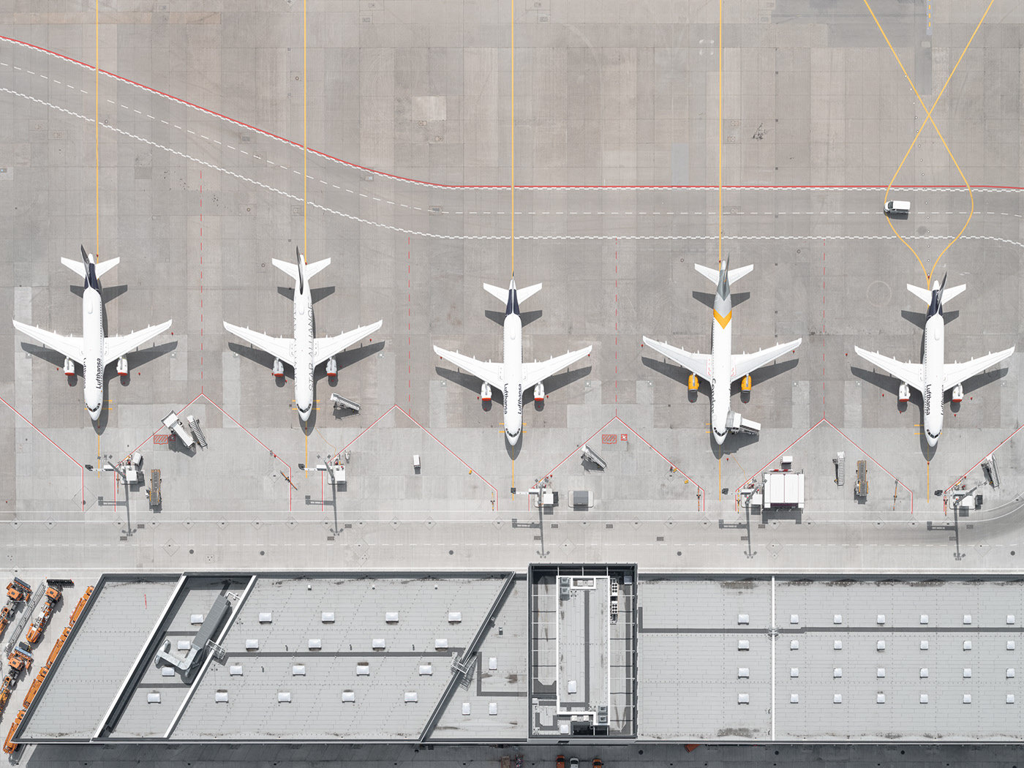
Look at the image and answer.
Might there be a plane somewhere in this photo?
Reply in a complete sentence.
Yes, I can see a plane in this picture.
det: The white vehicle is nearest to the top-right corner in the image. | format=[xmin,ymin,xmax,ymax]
[885,202,912,216]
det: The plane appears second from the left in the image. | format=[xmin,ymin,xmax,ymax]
[223,247,383,421]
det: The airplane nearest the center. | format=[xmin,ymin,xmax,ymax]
[433,276,593,446]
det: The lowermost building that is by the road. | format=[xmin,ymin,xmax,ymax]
[9,563,1024,749]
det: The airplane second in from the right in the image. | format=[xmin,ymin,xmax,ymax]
[642,252,802,445]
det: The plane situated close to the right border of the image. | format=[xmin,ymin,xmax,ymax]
[854,273,1015,446]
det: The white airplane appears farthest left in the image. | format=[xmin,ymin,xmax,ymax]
[12,245,173,420]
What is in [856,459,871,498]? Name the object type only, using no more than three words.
work vehicle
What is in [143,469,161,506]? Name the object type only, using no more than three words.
work vehicle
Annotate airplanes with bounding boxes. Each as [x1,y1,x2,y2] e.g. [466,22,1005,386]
[642,252,802,445]
[433,276,593,446]
[223,247,383,421]
[12,245,173,420]
[854,273,1015,446]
